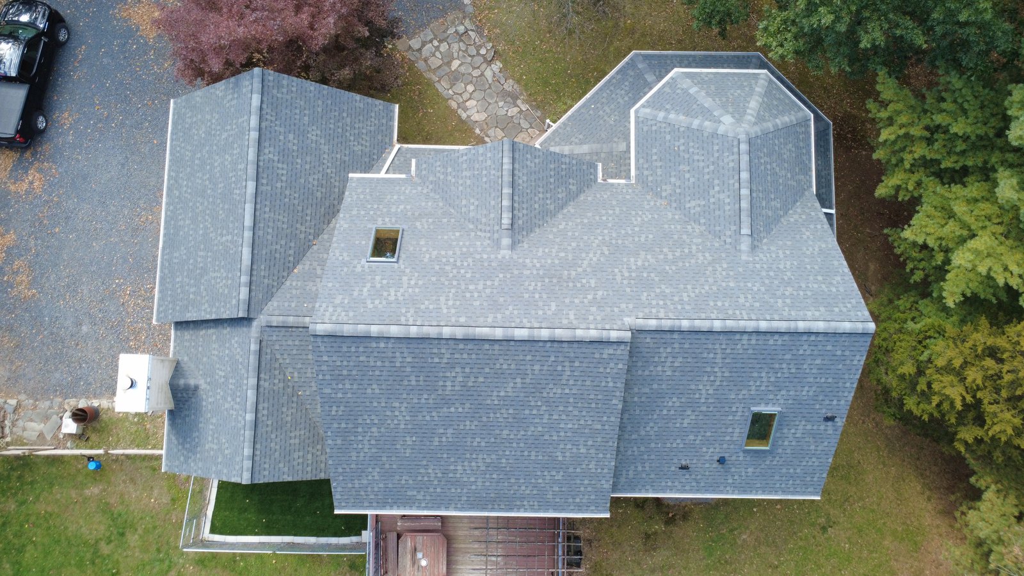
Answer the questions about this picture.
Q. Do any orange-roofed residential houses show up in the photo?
No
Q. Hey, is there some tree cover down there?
Yes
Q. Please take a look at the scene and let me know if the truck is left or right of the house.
to the left of it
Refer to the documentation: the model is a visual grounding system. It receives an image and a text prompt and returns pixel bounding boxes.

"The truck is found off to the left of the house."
[0,0,71,155]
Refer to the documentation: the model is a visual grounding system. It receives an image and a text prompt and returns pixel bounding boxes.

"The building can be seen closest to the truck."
[113,48,876,520]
